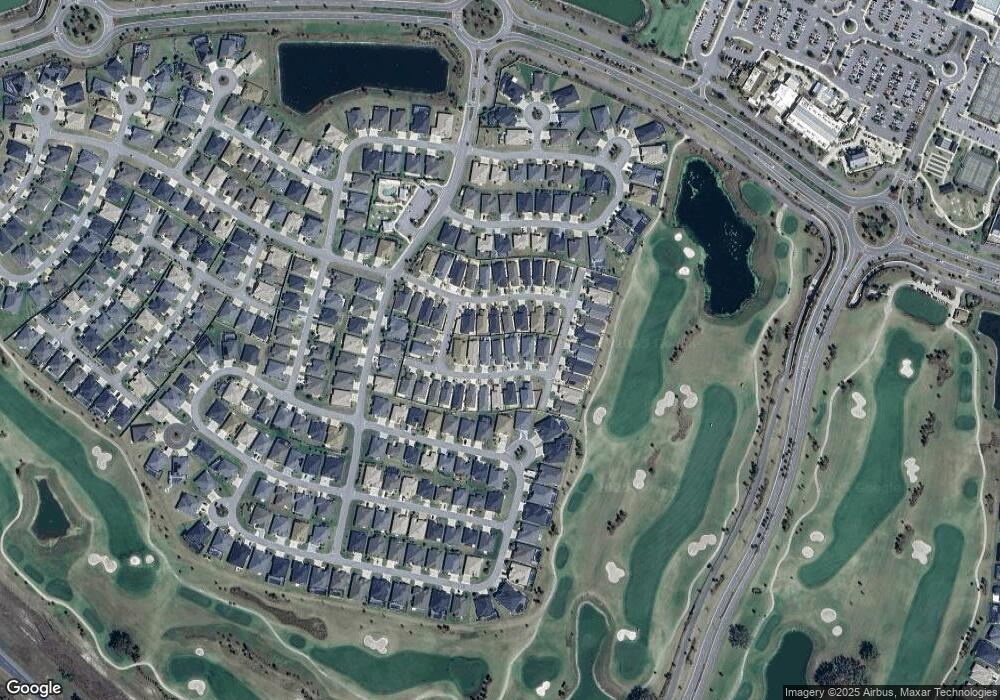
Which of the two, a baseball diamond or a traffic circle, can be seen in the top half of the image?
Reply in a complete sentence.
The feature located in the top half of the image is a traffic circle.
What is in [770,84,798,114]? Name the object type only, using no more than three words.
building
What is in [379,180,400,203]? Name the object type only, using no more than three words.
swimming pool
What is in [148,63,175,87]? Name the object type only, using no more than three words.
house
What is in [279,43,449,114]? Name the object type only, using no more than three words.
pond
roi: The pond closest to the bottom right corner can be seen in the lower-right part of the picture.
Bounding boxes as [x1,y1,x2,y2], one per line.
[762,630,812,700]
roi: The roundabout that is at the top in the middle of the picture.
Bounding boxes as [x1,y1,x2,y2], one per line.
[453,0,513,49]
